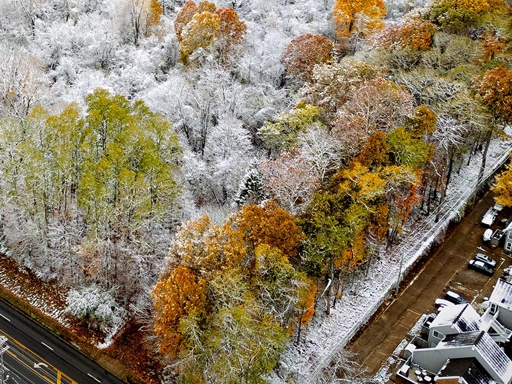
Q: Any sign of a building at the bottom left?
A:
No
